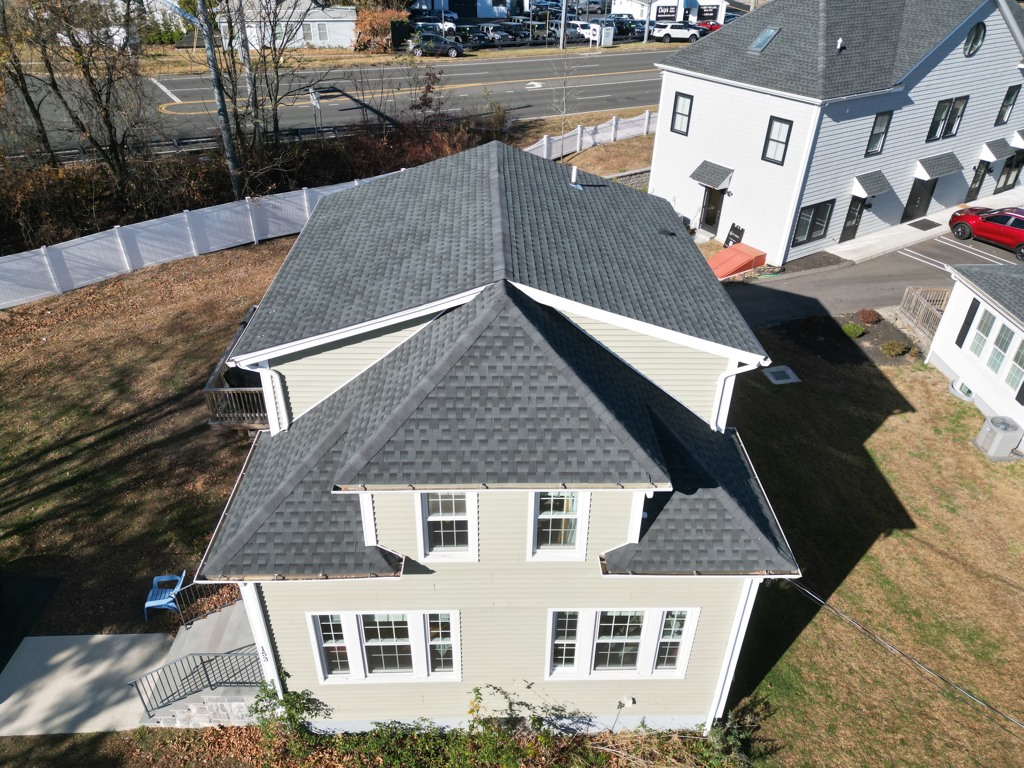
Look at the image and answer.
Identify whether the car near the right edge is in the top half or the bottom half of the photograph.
top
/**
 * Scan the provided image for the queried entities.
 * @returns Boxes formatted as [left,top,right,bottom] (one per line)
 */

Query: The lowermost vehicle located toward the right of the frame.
[950,206,1024,262]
